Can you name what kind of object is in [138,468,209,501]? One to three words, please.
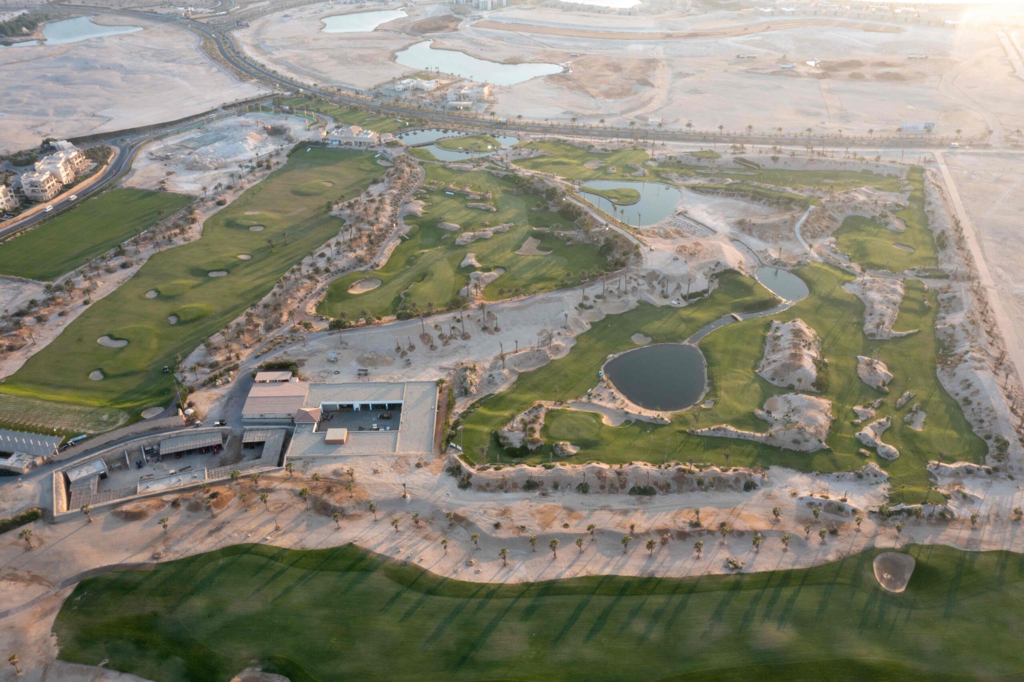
building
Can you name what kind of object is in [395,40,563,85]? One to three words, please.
pond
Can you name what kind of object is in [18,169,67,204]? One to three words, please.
house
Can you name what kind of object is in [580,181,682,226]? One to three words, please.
pond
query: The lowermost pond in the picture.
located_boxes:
[604,343,706,411]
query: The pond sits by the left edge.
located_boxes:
[0,16,144,47]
